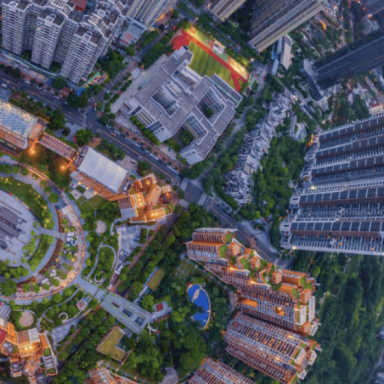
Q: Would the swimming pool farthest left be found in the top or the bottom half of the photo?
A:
bottom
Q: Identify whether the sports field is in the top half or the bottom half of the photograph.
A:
top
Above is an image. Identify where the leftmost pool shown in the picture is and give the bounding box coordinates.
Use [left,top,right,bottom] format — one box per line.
[185,282,214,330]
